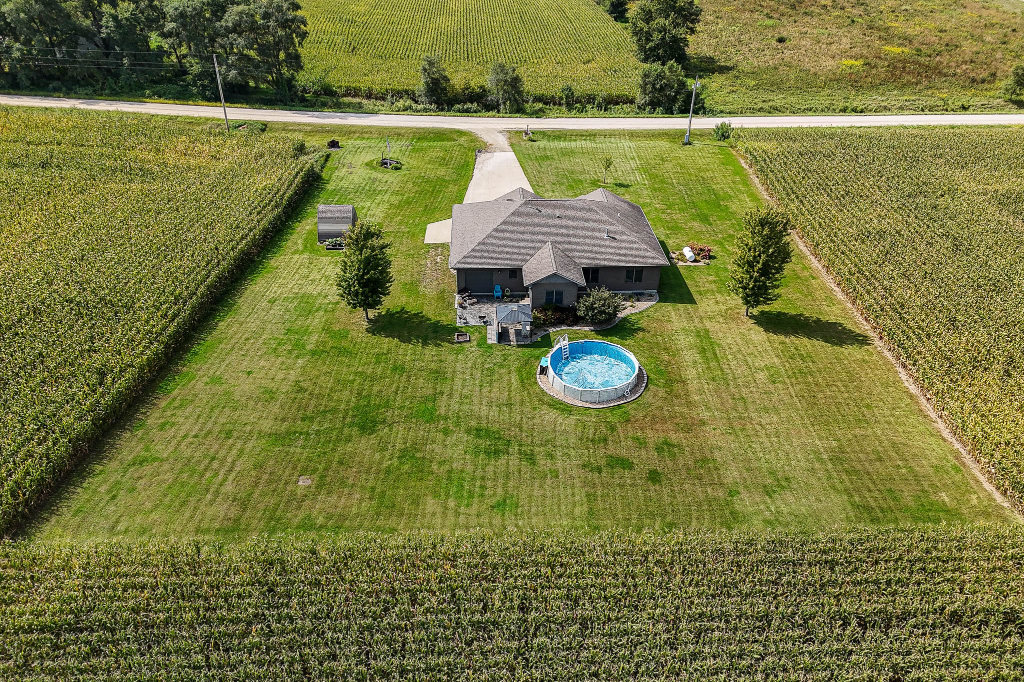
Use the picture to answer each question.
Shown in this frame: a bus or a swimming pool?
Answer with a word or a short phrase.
swimming pool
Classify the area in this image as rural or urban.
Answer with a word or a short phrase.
rural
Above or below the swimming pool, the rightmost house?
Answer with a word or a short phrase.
above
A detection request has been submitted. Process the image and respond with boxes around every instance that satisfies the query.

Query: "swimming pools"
[547,340,640,403]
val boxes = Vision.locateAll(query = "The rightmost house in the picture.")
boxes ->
[448,186,670,310]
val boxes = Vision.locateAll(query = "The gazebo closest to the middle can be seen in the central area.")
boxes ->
[496,303,533,343]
